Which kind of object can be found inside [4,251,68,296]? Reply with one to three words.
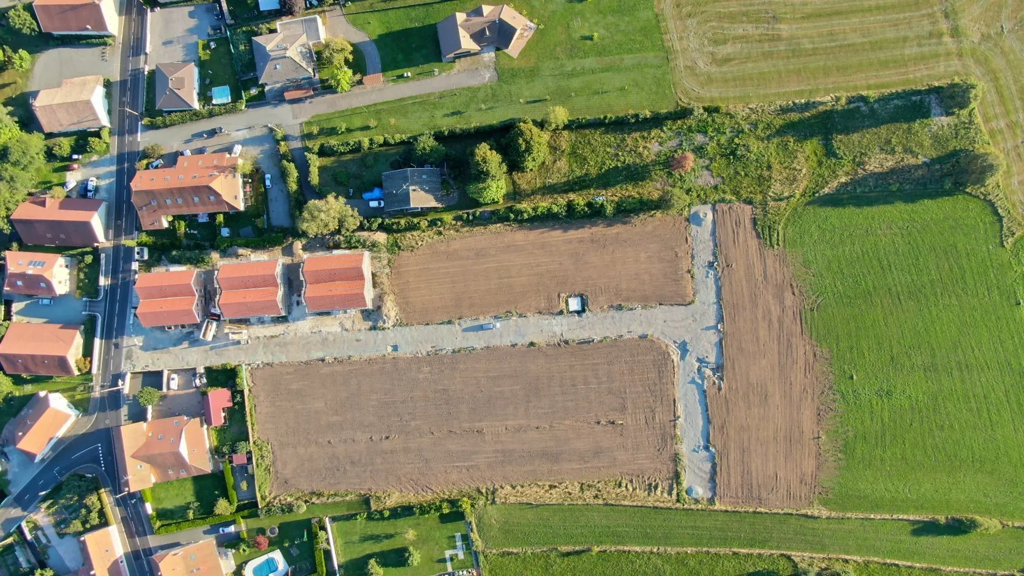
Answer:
house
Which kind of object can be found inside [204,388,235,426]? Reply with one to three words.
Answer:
shed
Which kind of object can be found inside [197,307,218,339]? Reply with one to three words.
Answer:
truck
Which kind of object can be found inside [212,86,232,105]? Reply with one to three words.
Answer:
swimming pool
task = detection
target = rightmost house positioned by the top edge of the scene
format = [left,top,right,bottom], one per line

[436,5,528,61]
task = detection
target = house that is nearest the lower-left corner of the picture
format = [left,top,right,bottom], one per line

[78,524,130,576]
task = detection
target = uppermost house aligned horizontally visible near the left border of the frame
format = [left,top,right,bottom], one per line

[33,0,117,36]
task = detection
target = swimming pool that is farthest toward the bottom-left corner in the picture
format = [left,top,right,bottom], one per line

[245,549,290,576]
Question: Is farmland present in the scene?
Yes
